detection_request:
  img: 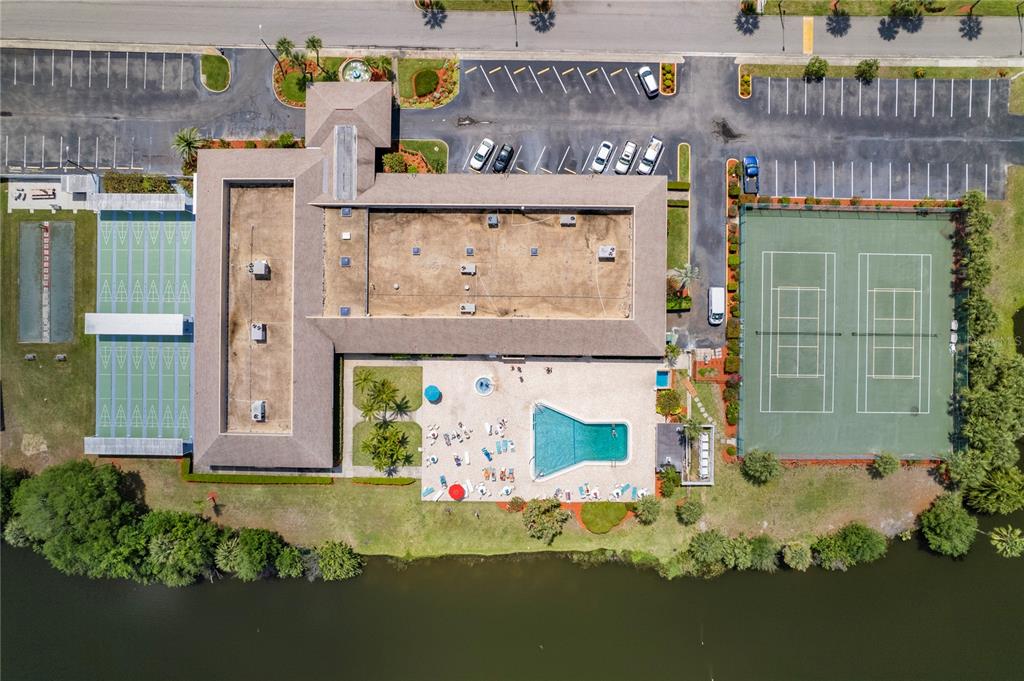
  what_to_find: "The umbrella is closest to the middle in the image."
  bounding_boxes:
[425,385,440,401]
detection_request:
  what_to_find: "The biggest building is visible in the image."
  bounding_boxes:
[193,82,667,468]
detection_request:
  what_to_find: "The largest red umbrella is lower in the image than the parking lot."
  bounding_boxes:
[449,483,464,499]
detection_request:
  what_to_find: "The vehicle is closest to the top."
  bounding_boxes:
[638,66,660,97]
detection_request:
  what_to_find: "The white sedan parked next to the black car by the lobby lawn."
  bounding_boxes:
[471,137,494,171]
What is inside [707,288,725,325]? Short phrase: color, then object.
white vehicle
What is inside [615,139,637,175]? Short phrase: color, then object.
white car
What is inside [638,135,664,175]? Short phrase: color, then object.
white truck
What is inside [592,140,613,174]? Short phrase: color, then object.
white car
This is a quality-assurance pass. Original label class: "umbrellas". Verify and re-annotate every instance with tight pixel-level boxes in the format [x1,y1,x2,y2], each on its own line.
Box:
[449,483,464,499]
[425,385,440,401]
